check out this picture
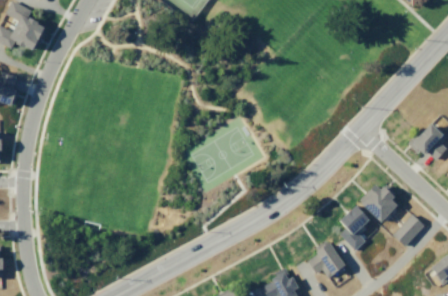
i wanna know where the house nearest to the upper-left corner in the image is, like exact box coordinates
[0,1,45,50]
